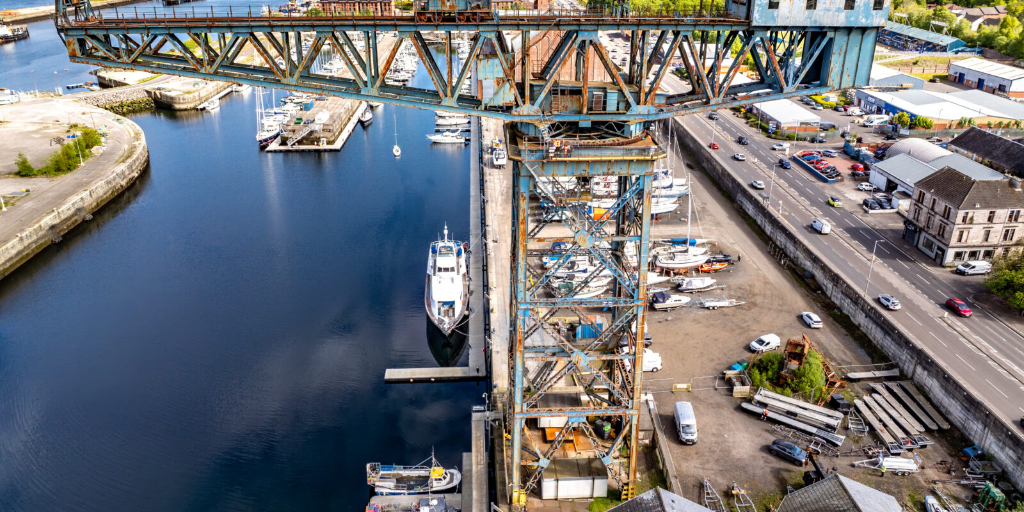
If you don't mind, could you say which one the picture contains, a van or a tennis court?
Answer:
van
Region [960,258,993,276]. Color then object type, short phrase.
white vehicle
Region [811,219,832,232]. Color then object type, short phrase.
white vehicle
